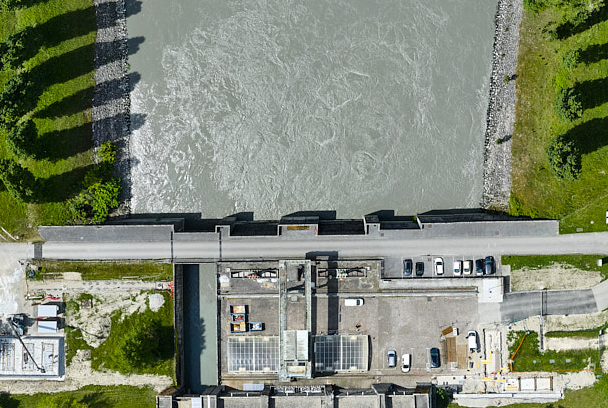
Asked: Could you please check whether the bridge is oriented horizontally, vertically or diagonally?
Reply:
horizontally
